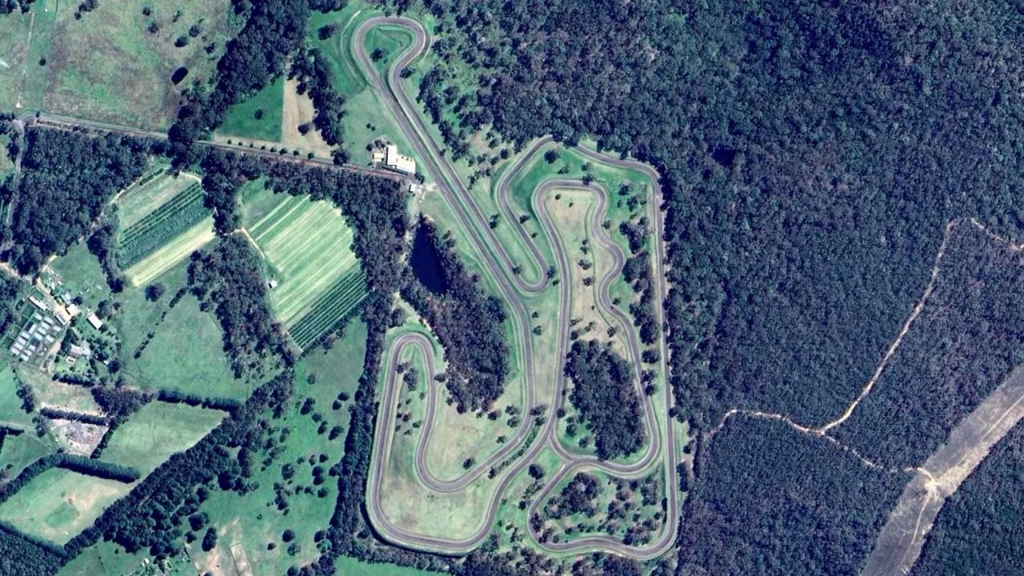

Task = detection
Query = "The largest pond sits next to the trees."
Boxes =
[412,217,447,294]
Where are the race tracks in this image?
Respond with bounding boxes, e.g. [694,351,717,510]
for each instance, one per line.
[351,12,681,559]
